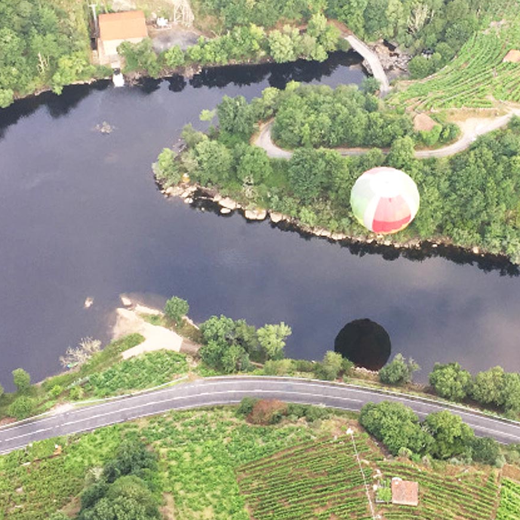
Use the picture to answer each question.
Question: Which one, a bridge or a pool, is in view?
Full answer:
Of the two, only a bridge appears.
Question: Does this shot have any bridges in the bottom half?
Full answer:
No, there's no bridge to be seen in the bottom half.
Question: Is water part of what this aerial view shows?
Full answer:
Yes, there is water in the image.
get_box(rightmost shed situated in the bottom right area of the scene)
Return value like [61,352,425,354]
[391,479,419,507]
